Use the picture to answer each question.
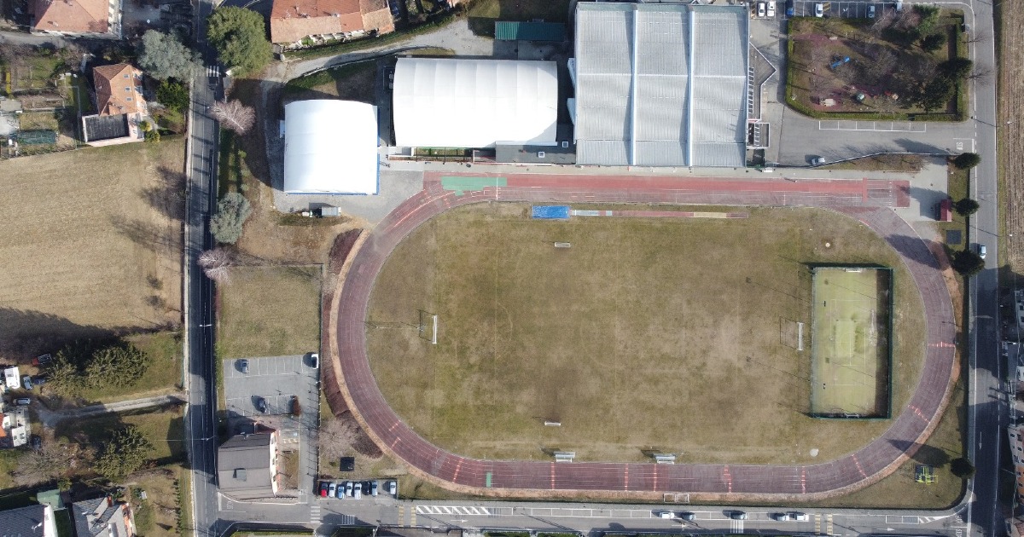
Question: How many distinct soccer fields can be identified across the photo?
1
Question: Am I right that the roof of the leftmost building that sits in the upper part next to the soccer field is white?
Yes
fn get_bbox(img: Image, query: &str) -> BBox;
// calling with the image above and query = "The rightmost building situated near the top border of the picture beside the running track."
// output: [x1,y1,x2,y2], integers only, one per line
[567,1,750,170]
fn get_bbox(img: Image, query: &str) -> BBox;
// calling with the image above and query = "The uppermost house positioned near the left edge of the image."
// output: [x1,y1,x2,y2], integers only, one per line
[33,0,121,39]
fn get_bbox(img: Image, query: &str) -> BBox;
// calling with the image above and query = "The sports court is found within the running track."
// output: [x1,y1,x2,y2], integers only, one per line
[813,270,889,417]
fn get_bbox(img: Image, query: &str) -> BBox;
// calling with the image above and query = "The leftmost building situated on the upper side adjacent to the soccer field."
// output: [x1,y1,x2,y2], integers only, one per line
[285,99,380,194]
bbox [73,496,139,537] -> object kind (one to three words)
house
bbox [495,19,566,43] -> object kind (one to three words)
shed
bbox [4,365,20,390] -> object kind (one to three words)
camper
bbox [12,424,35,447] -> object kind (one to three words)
shed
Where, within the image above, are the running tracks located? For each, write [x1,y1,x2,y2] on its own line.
[337,172,955,494]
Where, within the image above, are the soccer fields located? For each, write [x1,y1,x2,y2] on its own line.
[366,201,927,466]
